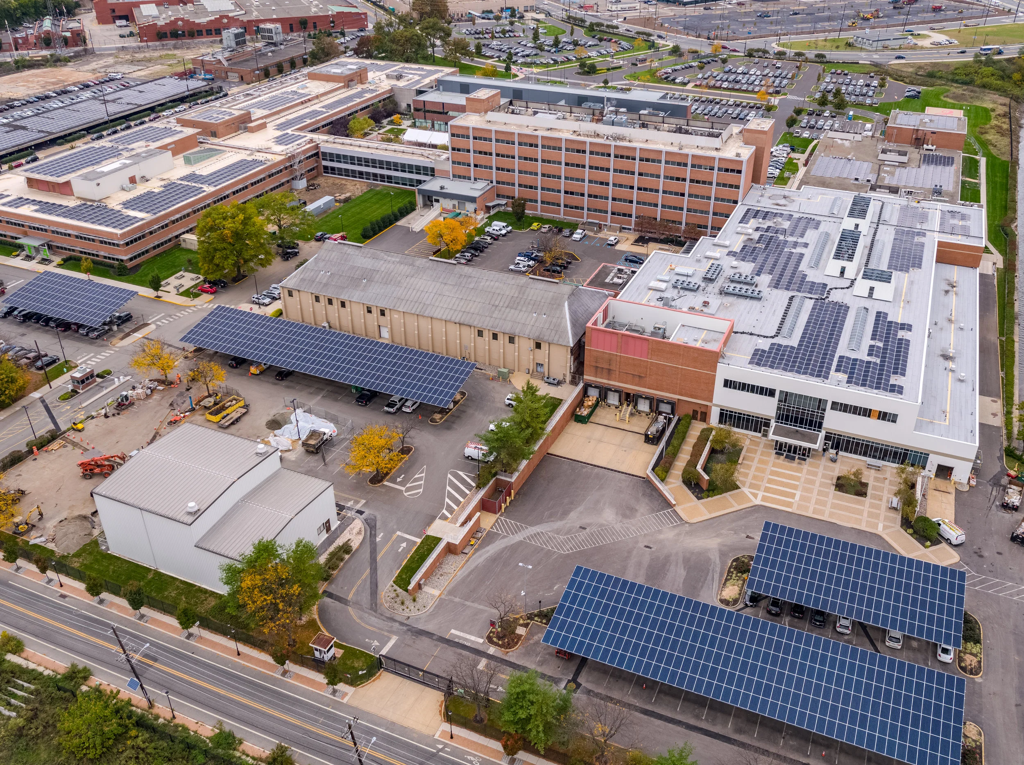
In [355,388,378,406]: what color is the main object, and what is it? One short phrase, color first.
black vehicle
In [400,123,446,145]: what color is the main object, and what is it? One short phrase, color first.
white tent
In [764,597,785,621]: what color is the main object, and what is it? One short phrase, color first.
black car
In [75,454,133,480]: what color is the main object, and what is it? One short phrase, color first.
red work vehicle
